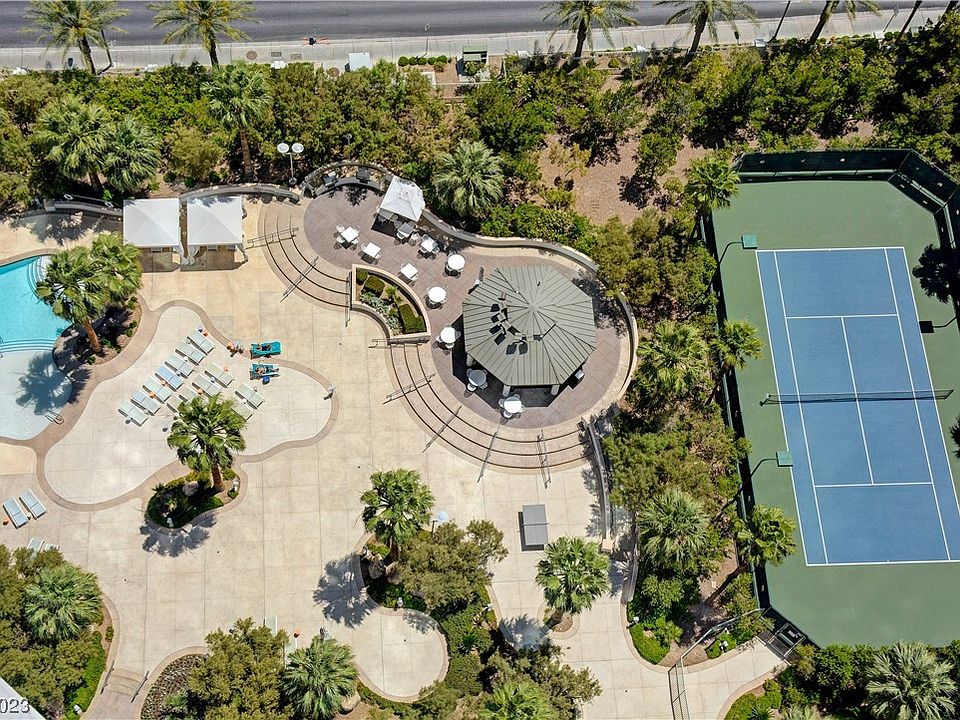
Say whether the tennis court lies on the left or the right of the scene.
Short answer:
right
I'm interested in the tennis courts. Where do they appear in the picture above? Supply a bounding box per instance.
[695,171,960,673]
